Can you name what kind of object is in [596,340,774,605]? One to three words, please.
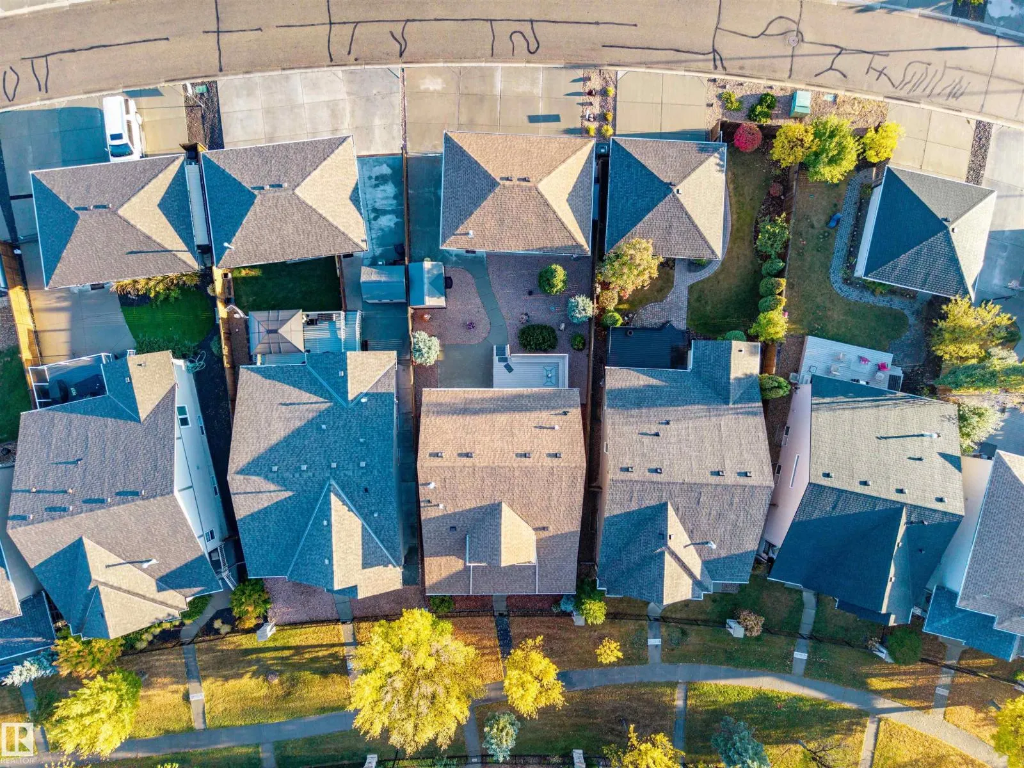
house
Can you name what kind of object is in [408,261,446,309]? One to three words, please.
shed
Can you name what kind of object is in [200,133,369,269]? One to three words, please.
building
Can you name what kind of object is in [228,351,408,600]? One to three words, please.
house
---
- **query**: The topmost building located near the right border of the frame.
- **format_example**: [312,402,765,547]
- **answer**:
[852,165,998,302]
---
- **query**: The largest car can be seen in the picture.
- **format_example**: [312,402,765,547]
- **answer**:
[106,95,152,159]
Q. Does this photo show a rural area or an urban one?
urban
